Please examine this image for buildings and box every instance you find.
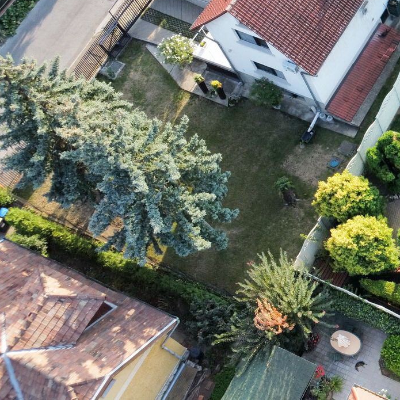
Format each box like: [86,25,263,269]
[170,0,400,125]
[215,344,321,400]
[0,242,194,400]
